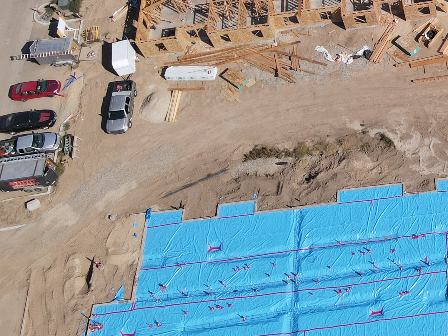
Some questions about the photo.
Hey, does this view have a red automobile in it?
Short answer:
Yes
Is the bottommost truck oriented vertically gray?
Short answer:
Yes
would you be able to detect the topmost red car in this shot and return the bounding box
[7,77,63,104]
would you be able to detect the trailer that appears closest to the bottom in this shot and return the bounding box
[0,158,69,193]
